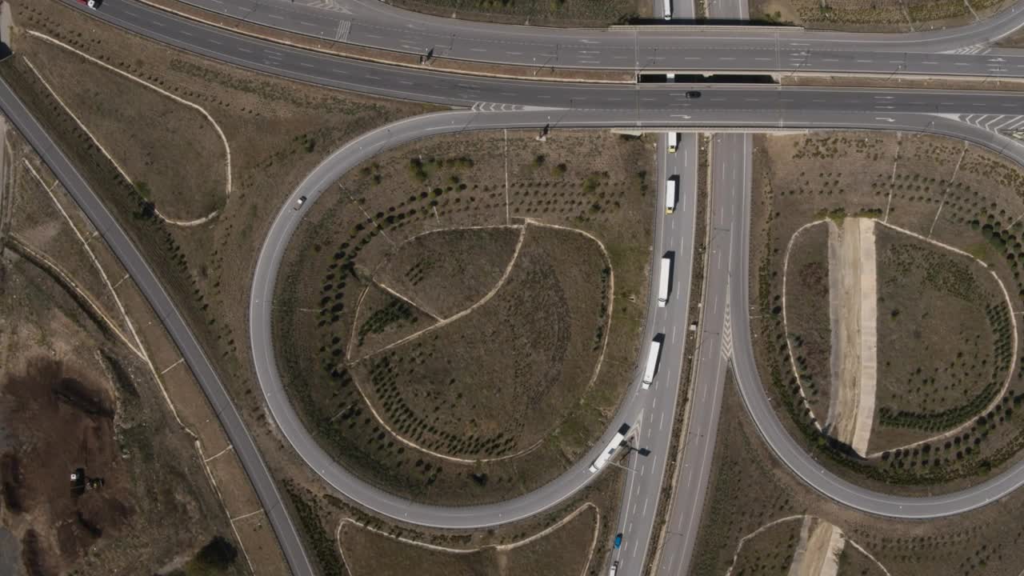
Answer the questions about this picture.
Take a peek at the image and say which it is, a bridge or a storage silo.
bridge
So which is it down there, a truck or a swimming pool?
truck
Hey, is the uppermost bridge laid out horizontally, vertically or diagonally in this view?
horizontally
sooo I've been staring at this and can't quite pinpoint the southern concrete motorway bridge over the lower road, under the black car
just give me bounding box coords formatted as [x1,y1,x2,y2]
[610,83,809,135]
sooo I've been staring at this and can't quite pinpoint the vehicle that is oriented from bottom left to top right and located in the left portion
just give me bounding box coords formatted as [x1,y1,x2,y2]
[293,195,306,211]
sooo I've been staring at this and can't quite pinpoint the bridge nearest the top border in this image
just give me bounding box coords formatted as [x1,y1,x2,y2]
[608,26,806,79]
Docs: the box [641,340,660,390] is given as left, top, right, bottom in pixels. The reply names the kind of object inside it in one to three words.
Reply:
vehicle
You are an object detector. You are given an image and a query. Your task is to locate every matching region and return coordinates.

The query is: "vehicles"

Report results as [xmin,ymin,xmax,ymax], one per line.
[665,180,675,221]
[686,92,701,98]
[68,0,99,12]
[609,562,617,576]
[667,132,676,154]
[641,340,660,390]
[293,195,306,211]
[667,74,676,83]
[70,473,81,495]
[662,0,672,21]
[614,535,622,549]
[658,258,669,307]
[589,431,623,473]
